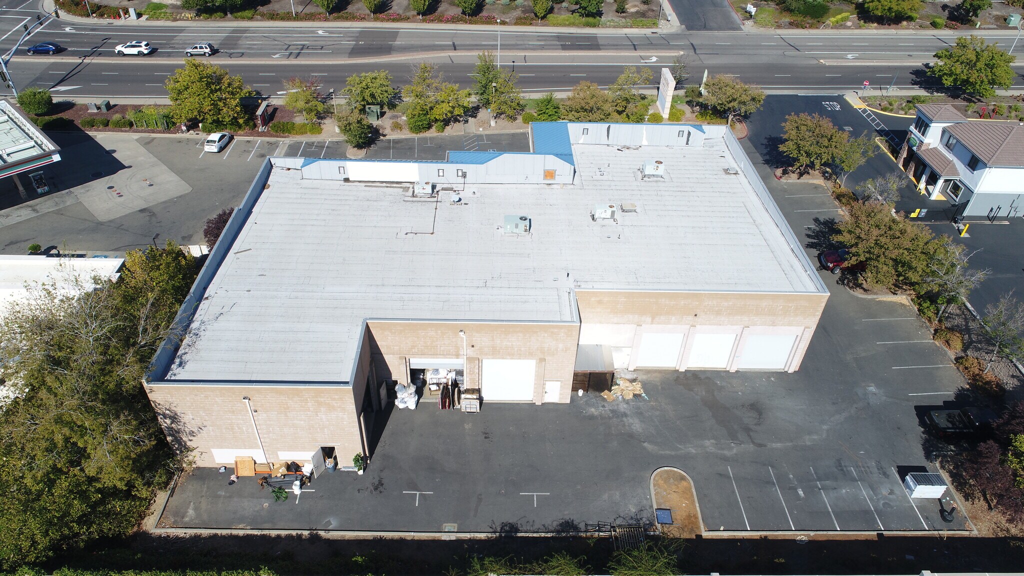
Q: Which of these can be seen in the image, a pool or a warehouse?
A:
warehouse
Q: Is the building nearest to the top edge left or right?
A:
right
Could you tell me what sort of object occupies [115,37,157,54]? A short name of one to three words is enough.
car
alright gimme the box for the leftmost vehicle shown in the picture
[26,38,66,53]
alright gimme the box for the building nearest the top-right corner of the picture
[892,102,1024,217]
